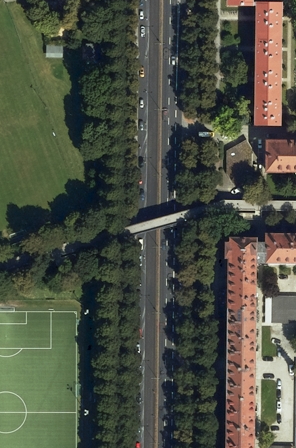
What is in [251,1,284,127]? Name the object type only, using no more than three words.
building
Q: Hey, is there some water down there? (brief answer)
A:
No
